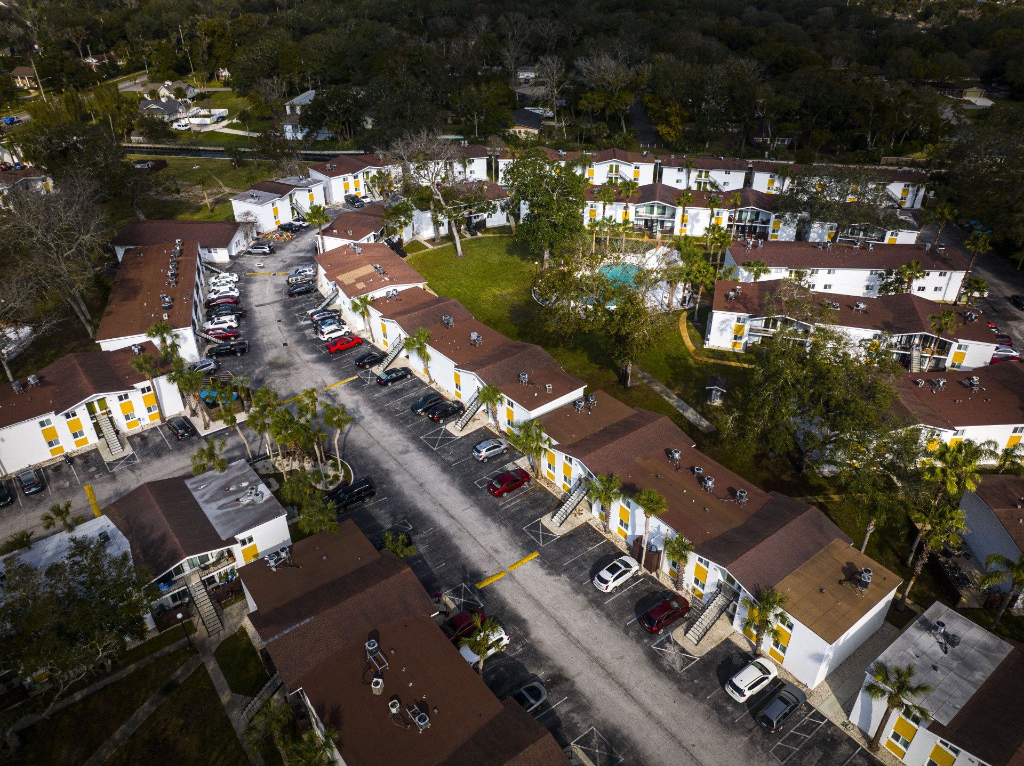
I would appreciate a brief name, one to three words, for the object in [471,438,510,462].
car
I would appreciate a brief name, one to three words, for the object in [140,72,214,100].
house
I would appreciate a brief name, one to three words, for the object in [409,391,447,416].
car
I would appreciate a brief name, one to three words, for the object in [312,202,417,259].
building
